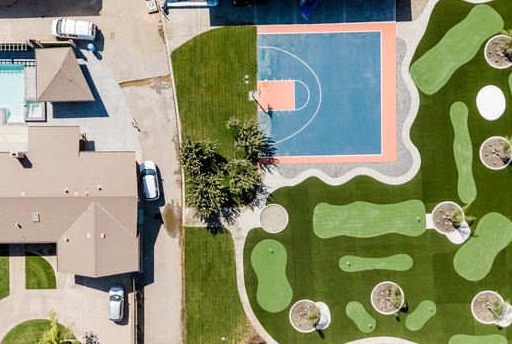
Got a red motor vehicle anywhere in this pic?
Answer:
No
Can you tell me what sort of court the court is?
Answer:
basketball court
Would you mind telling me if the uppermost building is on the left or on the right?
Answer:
left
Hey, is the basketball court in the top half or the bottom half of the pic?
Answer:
top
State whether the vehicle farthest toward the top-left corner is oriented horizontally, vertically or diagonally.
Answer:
horizontally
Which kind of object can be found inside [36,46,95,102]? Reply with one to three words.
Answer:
building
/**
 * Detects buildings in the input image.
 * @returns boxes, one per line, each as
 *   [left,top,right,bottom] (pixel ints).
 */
[0,126,141,277]
[36,46,95,102]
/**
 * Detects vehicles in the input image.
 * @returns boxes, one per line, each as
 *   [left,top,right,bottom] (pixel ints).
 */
[108,283,126,320]
[52,18,100,42]
[139,160,160,201]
